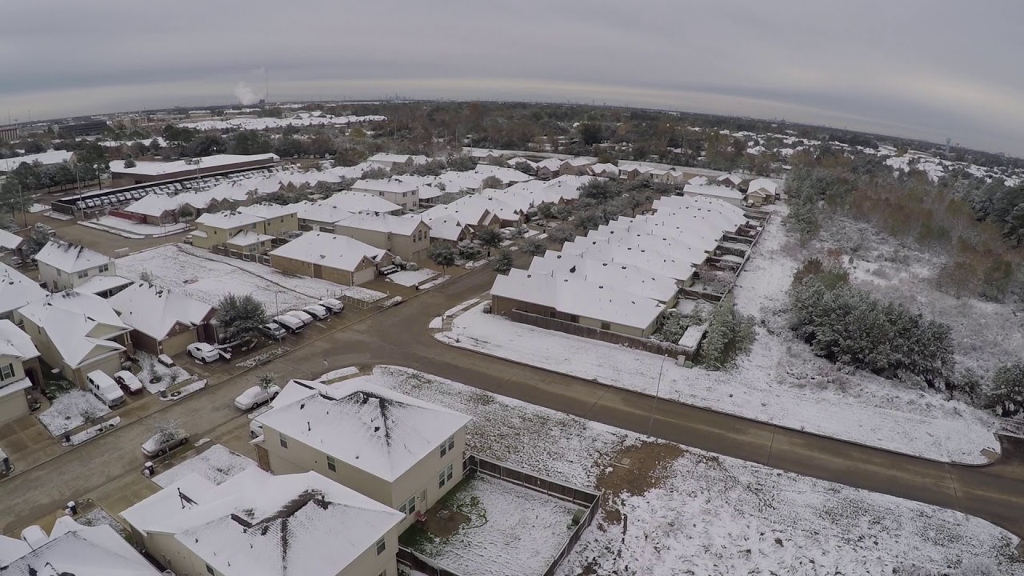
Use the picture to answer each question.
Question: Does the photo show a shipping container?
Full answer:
No, the picture doesn't show any shipping container.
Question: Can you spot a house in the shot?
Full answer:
Yes, the image includes a house.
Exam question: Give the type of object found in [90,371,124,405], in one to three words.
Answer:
vehicle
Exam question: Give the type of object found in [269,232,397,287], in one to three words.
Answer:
house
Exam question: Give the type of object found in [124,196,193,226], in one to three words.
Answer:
house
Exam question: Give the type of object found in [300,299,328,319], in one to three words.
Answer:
car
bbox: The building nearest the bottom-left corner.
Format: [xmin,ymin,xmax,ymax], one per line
[0,492,160,576]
